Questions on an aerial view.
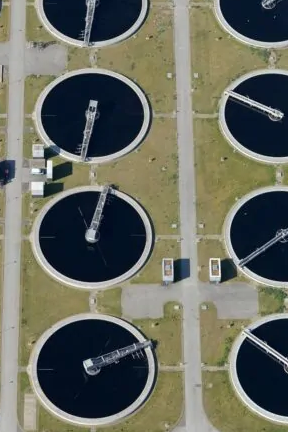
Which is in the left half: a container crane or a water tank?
water tank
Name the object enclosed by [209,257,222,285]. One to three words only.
shed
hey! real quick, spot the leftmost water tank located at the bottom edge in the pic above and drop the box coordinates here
[26,314,156,426]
